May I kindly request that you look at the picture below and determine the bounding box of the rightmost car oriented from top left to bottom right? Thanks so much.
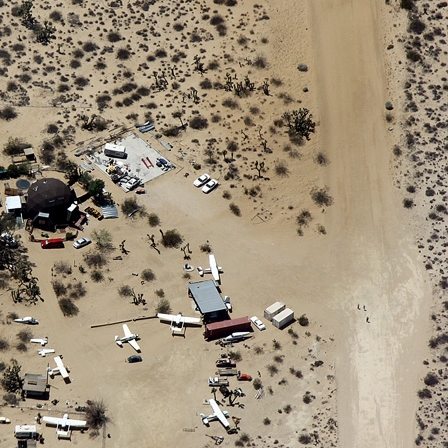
[249,316,267,330]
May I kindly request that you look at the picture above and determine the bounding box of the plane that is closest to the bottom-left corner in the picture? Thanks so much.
[42,415,86,440]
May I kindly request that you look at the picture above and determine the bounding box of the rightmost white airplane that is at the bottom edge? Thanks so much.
[198,398,228,427]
